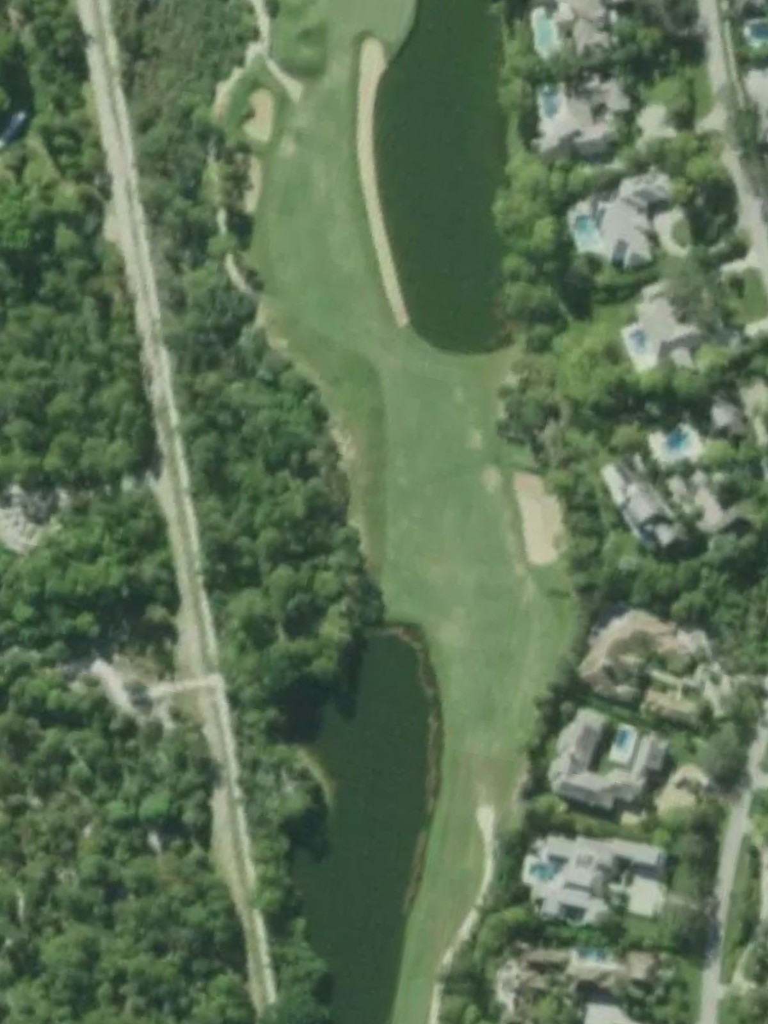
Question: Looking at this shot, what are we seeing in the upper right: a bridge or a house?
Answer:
house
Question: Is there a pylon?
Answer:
No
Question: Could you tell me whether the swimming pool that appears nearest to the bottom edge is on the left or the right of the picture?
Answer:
right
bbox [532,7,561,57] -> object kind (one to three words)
swimming pool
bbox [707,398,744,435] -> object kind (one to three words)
house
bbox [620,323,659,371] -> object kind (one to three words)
swimming pool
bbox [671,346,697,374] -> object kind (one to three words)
building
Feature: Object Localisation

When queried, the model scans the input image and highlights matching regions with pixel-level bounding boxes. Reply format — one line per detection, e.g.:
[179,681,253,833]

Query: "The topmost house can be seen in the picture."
[557,0,613,52]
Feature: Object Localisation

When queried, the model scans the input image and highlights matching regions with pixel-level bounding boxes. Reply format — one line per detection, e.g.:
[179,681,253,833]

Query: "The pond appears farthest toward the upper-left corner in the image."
[0,55,29,153]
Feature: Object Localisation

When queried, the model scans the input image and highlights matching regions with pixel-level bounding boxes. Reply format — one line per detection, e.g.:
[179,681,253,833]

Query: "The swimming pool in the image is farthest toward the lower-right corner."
[569,944,624,964]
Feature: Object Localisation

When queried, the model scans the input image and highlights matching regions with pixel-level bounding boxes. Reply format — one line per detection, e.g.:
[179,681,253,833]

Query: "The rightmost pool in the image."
[744,18,768,49]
